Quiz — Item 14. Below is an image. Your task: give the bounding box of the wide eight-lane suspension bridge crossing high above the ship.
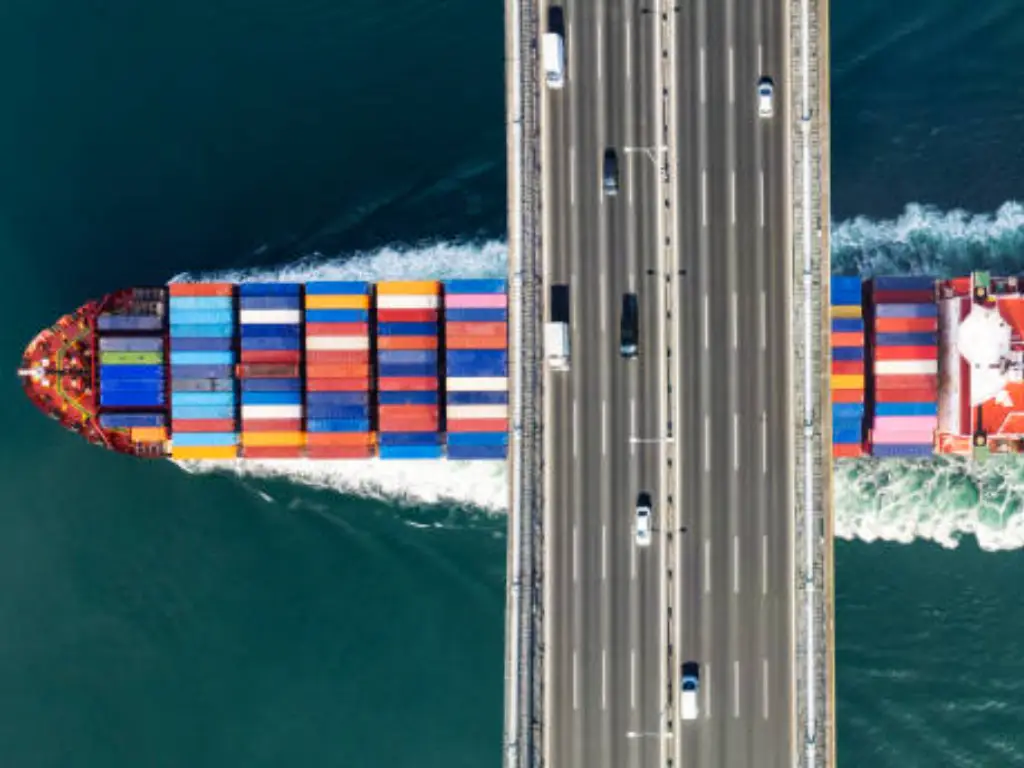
[503,0,832,768]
